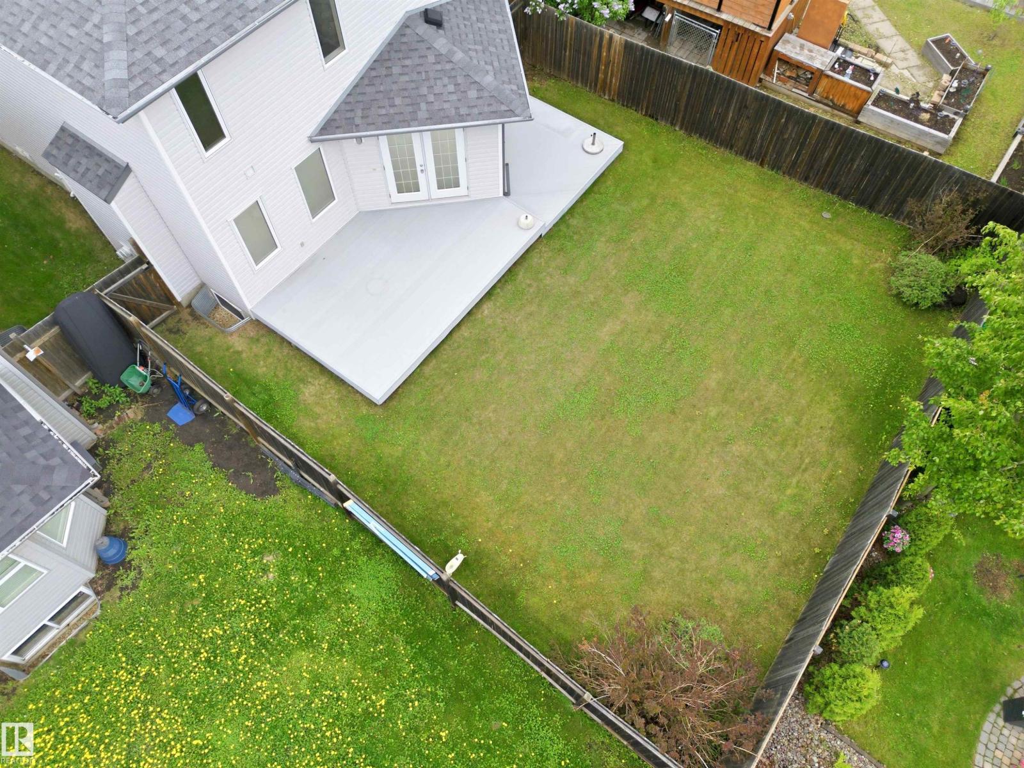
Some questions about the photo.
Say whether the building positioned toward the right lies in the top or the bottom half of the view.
top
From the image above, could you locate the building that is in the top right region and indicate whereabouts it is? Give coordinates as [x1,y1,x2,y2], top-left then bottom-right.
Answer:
[763,32,837,98]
